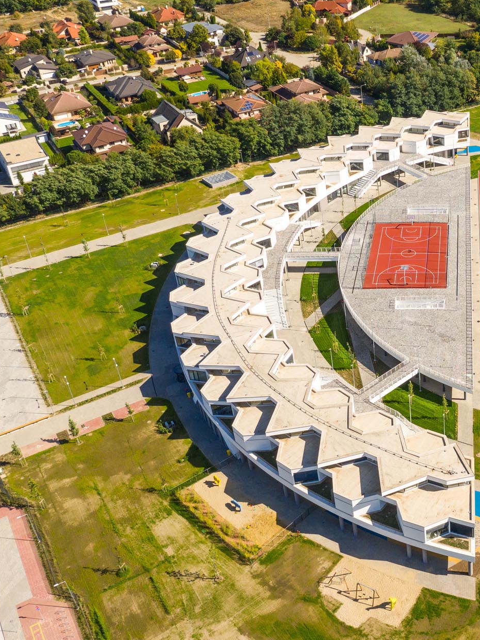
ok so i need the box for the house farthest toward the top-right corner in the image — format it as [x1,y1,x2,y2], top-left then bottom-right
[385,21,439,49]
